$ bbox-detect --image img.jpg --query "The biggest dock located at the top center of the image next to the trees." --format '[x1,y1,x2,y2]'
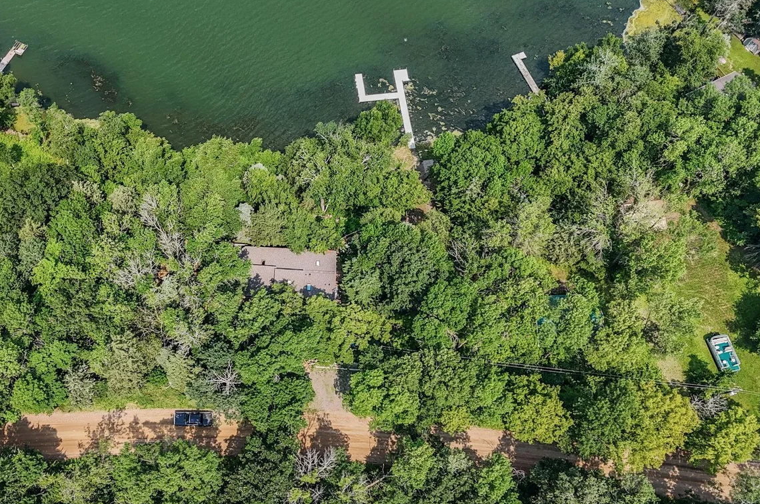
[355,67,415,149]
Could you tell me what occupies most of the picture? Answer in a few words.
trees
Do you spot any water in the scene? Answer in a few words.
Yes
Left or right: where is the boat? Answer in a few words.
right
